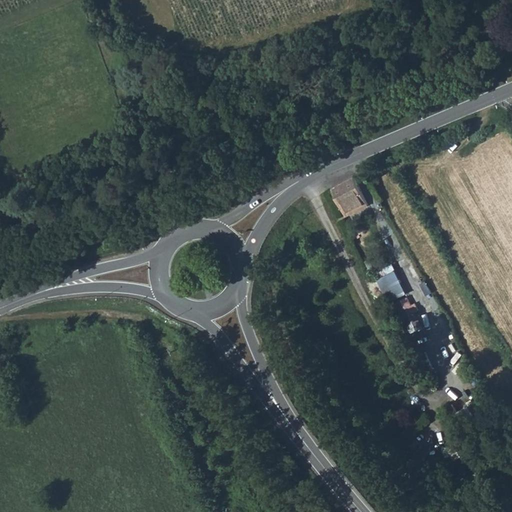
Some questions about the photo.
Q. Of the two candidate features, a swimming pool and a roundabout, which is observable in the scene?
roundabout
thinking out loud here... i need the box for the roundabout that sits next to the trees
[150,219,252,320]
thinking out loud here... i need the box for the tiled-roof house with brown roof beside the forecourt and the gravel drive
[330,178,368,218]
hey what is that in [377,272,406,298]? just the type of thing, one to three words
building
